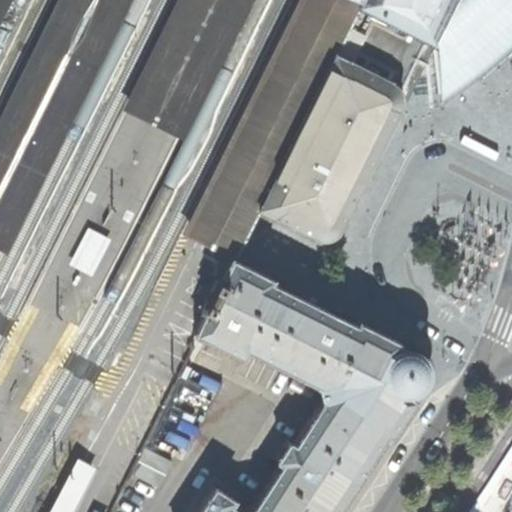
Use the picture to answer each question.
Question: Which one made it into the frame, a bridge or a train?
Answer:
train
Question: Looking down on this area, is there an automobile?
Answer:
Yes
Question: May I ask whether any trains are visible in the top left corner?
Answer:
Yes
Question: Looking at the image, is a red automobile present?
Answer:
No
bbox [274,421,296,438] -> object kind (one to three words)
car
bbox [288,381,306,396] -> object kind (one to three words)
vehicle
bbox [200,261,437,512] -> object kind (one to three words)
building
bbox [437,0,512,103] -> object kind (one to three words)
building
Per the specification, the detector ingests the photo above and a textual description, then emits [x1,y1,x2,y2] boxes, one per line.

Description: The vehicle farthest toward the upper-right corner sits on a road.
[424,146,446,158]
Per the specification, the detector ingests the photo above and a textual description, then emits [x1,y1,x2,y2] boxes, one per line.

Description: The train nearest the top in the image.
[68,0,148,140]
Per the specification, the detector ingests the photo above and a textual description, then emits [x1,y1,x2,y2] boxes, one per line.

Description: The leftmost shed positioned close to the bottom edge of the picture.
[50,458,96,512]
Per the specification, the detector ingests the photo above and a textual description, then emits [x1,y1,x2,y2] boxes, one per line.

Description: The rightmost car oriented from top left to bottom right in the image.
[442,337,465,356]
